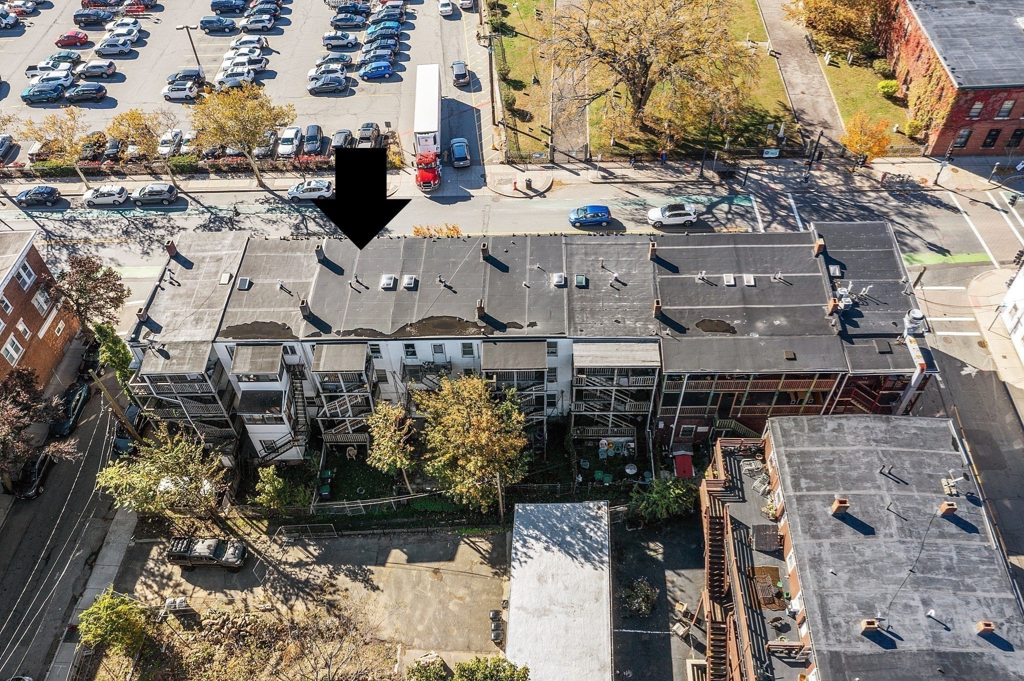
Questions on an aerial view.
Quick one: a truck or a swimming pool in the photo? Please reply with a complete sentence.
There is a truck in the scene.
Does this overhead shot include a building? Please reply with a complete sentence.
Yes, there is a building in the image.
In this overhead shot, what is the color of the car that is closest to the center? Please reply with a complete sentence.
In this view, the car that is closest to the center is blue.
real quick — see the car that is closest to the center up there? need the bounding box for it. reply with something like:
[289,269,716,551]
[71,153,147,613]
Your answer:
[568,205,612,228]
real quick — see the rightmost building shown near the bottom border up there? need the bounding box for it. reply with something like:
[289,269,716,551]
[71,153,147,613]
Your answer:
[693,419,1024,681]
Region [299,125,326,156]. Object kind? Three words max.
car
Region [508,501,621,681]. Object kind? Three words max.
building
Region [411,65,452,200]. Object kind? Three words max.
truck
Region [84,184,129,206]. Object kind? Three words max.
car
